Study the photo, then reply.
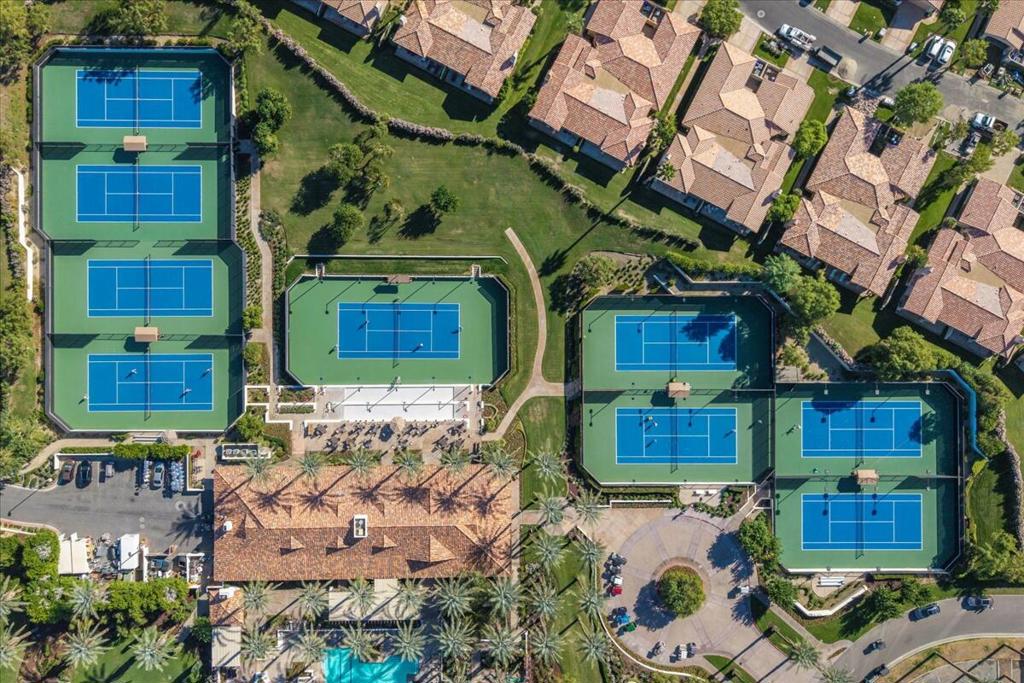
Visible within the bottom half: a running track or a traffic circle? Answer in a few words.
traffic circle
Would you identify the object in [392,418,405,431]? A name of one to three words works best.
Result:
umbrella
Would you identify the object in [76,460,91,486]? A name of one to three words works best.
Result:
car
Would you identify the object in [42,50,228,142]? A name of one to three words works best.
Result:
tennis court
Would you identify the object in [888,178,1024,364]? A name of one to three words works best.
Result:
house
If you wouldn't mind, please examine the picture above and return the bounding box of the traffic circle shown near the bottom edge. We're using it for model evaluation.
[609,515,755,661]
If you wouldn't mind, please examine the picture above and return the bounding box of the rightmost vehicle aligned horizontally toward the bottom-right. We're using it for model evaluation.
[965,598,993,611]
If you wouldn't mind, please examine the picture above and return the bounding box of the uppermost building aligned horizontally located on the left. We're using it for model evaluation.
[288,0,395,47]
